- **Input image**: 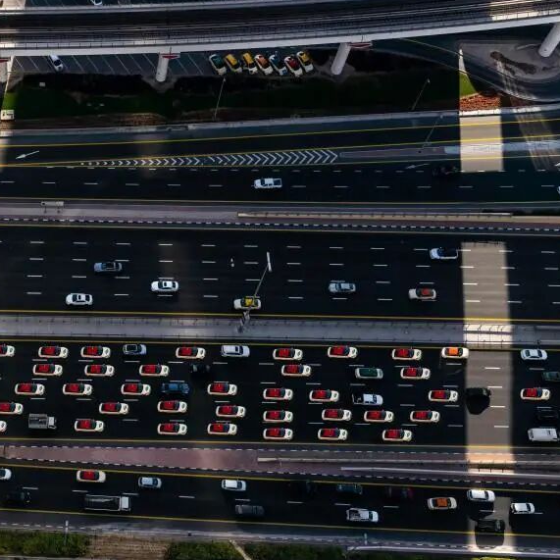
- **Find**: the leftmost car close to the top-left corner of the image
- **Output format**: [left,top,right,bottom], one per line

[47,54,65,71]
